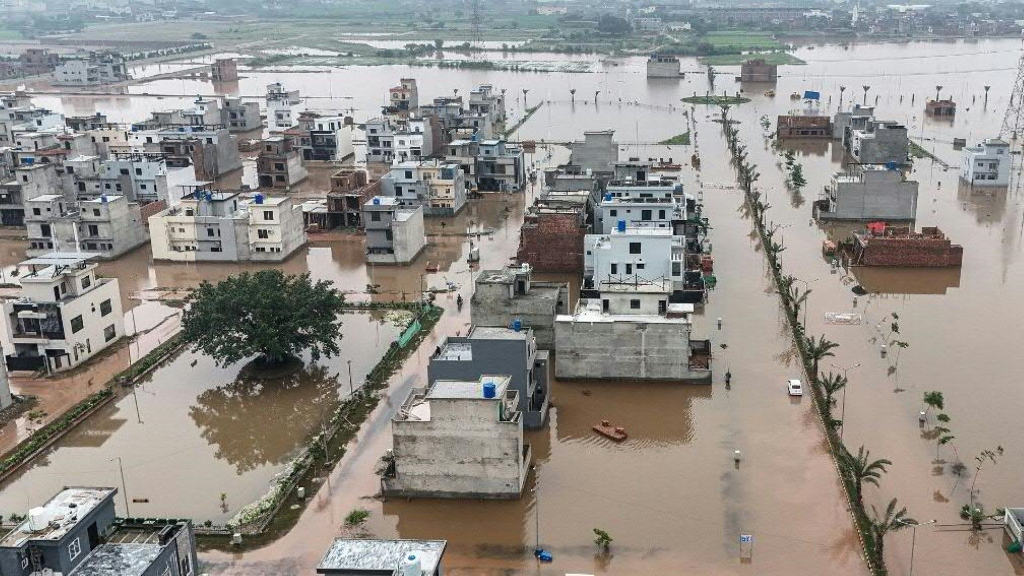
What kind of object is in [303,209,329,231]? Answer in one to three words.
shed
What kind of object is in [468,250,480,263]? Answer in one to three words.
vehicle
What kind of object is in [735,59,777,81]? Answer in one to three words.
house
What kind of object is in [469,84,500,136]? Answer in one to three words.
house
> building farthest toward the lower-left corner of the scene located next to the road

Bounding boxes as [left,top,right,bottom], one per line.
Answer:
[0,483,189,576]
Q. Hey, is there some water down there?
Yes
